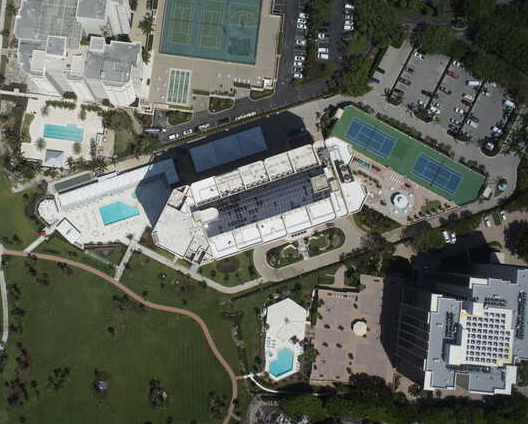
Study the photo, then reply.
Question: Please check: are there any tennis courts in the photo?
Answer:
Yes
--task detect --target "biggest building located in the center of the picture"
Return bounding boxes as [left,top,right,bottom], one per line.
[152,137,367,265]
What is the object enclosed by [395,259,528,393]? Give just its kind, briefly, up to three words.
building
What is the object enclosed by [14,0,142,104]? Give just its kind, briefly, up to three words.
building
